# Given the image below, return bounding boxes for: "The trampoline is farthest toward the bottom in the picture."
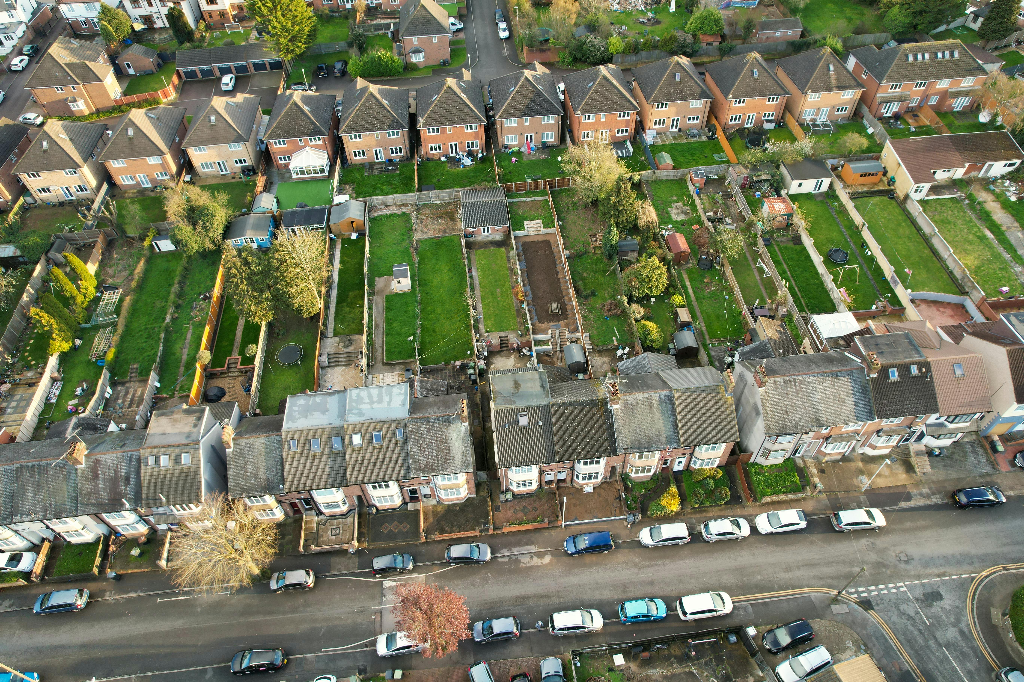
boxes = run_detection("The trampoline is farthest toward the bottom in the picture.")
[273,342,305,370]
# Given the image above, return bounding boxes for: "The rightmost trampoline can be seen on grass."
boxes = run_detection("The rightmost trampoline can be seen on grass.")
[824,240,855,266]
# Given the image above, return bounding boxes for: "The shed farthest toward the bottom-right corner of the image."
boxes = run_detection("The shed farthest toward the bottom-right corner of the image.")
[831,654,885,682]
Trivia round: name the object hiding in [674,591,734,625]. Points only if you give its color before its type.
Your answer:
white car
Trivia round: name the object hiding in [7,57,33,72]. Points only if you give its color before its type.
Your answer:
white car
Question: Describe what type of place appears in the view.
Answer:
residential area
